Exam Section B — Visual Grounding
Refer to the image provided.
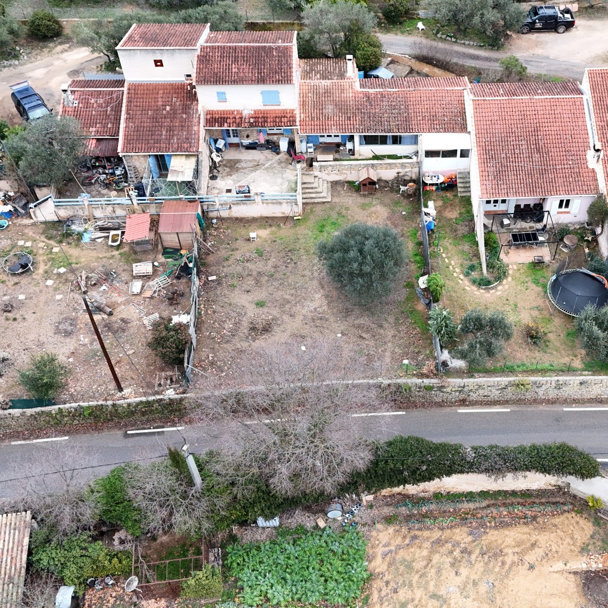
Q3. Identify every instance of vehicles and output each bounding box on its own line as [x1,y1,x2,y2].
[519,4,579,32]
[6,71,49,121]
